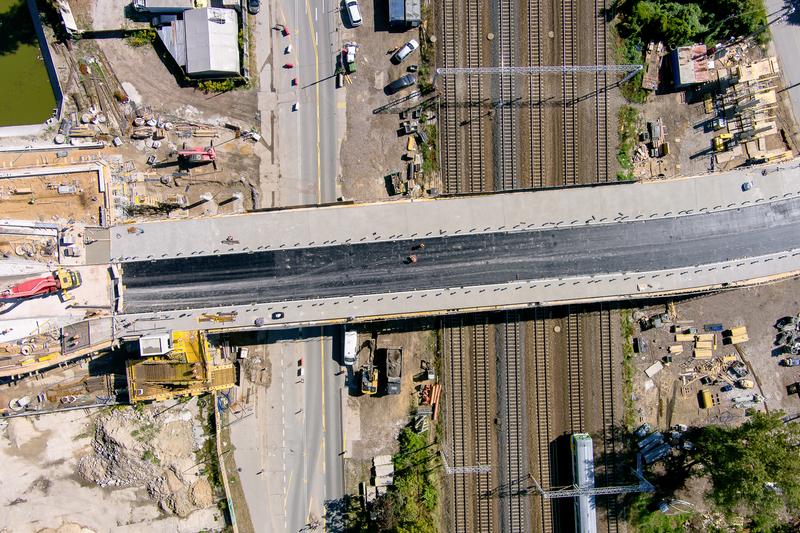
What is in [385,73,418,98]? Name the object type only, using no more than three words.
car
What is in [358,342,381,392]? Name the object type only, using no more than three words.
work vehicle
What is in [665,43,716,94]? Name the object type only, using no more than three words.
shed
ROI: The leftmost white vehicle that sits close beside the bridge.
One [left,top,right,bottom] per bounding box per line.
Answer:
[344,330,359,363]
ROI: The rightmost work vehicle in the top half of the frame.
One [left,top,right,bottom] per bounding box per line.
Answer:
[707,135,731,153]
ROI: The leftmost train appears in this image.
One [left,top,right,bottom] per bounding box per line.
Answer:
[569,428,594,533]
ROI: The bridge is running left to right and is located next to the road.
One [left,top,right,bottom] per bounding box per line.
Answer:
[112,161,800,339]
